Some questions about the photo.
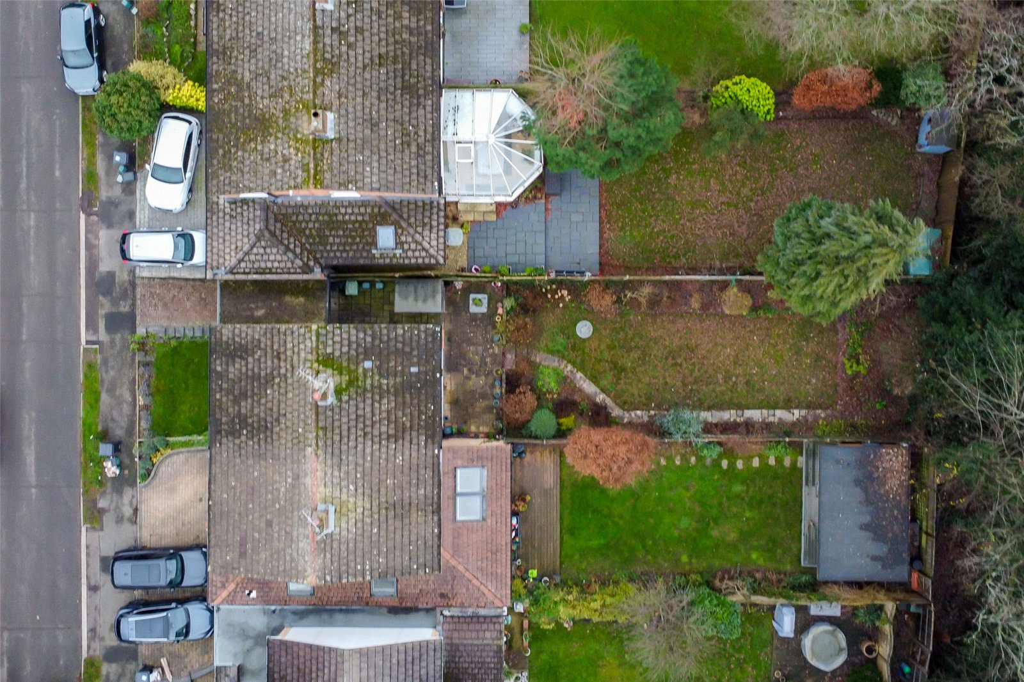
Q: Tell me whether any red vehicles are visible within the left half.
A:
No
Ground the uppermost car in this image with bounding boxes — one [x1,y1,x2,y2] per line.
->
[55,1,108,98]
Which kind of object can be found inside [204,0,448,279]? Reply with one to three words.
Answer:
house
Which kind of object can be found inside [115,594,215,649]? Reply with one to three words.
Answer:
car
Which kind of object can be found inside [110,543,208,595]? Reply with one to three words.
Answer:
car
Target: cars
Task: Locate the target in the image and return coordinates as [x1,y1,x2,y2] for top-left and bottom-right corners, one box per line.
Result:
[55,1,108,98]
[115,594,215,649]
[110,543,208,595]
[120,225,208,273]
[146,112,204,214]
